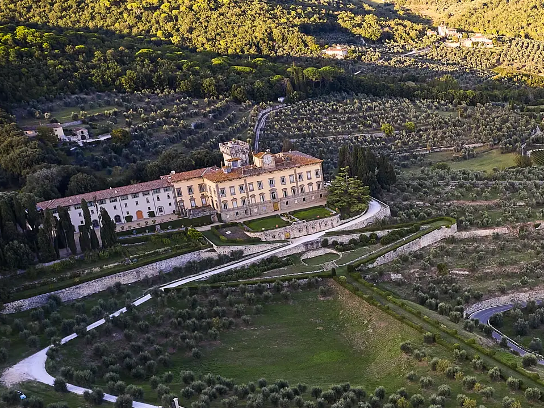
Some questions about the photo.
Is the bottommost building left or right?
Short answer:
left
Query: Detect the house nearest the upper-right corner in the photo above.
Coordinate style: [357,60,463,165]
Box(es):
[461,33,495,49]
